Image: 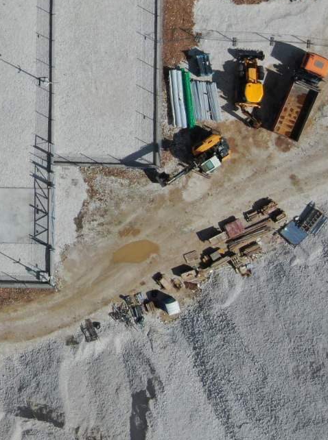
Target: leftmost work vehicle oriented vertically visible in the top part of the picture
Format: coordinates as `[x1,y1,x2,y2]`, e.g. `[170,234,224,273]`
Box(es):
[230,47,263,133]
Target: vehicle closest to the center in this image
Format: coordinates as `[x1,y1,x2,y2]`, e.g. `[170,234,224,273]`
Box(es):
[153,132,229,191]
